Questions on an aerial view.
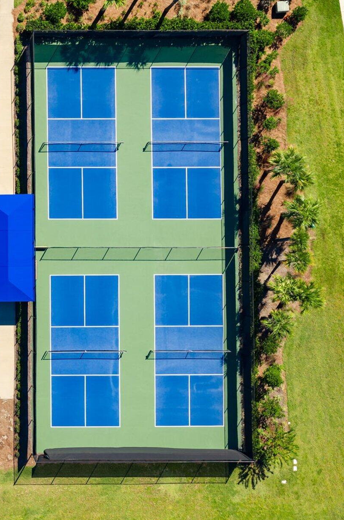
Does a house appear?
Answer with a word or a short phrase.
No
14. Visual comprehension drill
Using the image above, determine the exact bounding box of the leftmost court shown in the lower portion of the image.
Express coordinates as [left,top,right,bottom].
[34,248,137,453]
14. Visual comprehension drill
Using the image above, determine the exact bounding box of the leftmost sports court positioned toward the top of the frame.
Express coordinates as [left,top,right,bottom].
[33,38,136,247]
